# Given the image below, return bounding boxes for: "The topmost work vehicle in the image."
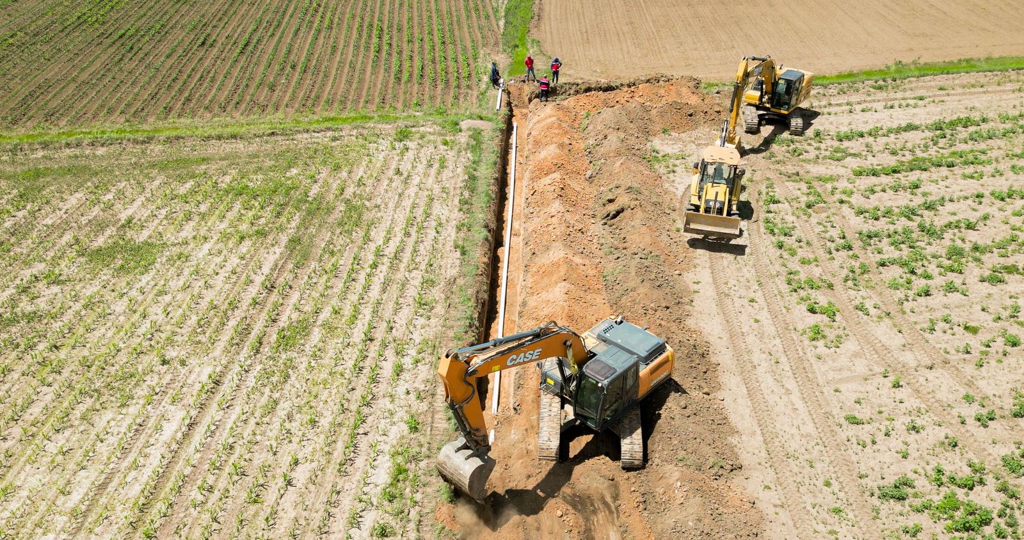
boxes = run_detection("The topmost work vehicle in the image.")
[709,48,802,144]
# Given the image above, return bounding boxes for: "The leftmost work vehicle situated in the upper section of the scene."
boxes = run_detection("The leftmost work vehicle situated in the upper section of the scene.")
[685,142,744,238]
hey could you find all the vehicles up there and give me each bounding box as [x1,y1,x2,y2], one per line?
[709,48,802,144]
[685,142,744,238]
[436,308,673,509]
